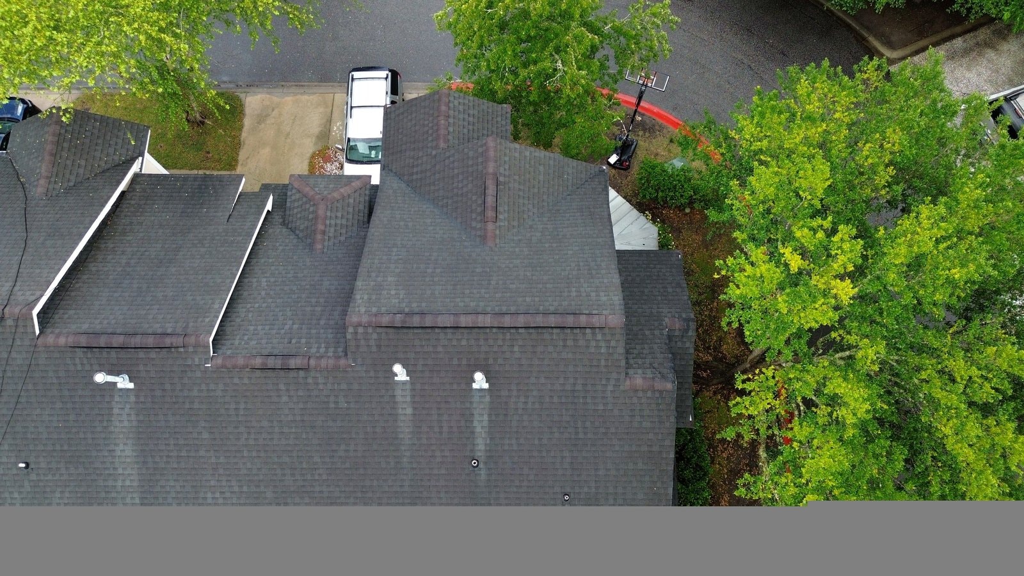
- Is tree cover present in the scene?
Yes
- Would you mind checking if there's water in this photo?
No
